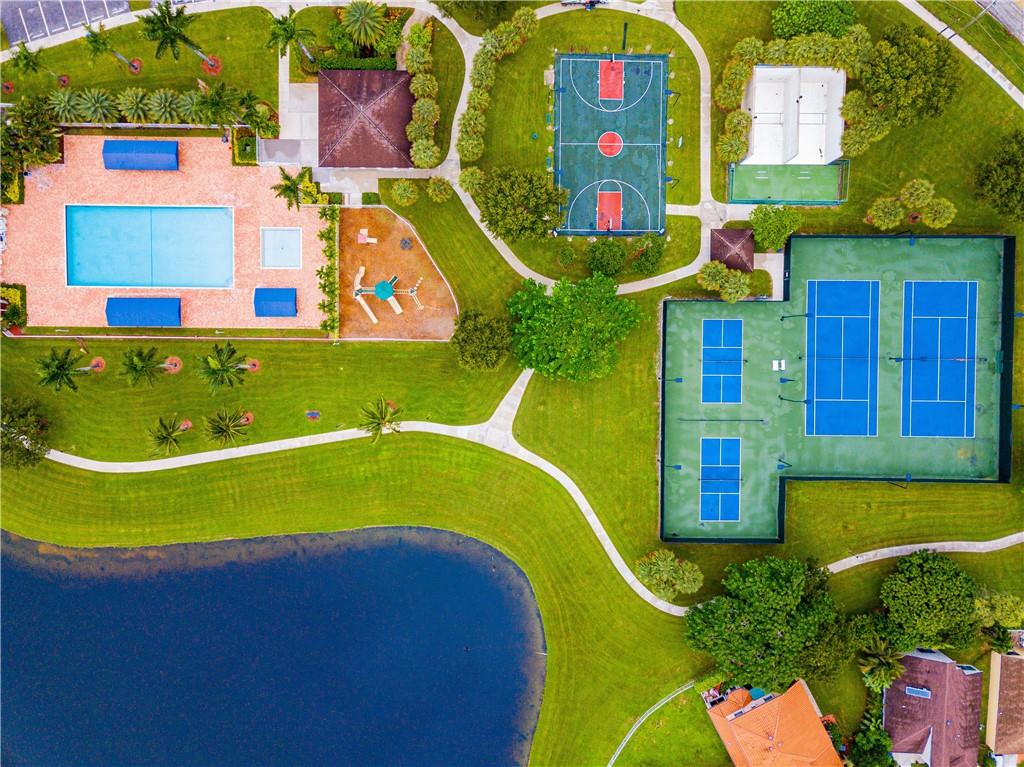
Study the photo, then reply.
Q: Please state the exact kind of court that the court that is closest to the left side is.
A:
basketball court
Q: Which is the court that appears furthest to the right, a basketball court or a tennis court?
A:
tennis court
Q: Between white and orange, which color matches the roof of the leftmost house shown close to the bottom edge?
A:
orange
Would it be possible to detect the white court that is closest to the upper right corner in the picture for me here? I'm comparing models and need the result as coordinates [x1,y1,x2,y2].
[735,66,845,202]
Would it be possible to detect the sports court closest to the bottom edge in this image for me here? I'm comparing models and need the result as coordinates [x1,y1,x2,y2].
[697,438,744,522]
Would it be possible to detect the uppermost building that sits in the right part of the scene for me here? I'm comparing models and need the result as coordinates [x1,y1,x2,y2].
[707,228,754,272]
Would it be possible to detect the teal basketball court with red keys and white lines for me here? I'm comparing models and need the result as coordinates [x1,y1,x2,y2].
[554,53,669,235]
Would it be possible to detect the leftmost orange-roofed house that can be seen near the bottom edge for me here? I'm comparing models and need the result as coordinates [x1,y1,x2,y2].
[707,673,844,767]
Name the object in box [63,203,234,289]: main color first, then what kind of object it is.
blue swimming pool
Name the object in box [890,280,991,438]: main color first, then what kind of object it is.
blue tennis court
